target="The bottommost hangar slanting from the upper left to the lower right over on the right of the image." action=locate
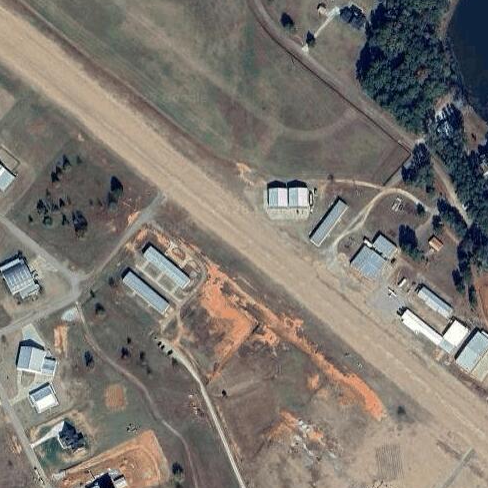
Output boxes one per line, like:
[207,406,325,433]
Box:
[402,310,442,346]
